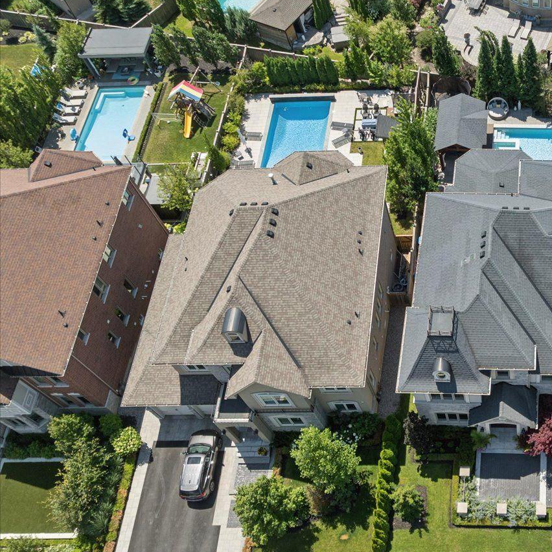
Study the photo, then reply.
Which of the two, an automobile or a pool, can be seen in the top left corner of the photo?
pool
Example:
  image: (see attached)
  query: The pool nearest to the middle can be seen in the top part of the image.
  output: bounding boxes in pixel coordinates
[255,94,336,167]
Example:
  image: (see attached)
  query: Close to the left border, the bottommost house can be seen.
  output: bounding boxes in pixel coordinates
[0,148,164,472]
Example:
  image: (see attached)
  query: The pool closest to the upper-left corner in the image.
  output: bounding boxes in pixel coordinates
[71,84,149,165]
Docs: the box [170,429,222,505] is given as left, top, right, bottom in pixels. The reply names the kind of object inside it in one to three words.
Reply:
car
